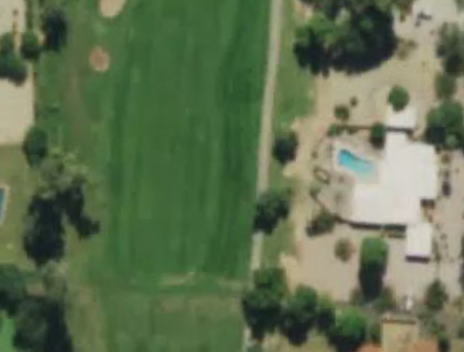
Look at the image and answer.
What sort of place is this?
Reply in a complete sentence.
This looks like a golf course.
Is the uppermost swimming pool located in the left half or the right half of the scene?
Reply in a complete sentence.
The uppermost swimming pool appears in the right half of the scene.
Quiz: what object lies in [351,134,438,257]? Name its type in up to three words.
house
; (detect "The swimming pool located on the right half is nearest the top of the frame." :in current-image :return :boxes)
[337,149,375,178]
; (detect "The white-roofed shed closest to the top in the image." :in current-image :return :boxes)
[387,107,418,130]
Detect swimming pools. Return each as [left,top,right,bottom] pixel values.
[337,149,375,178]
[0,185,7,222]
